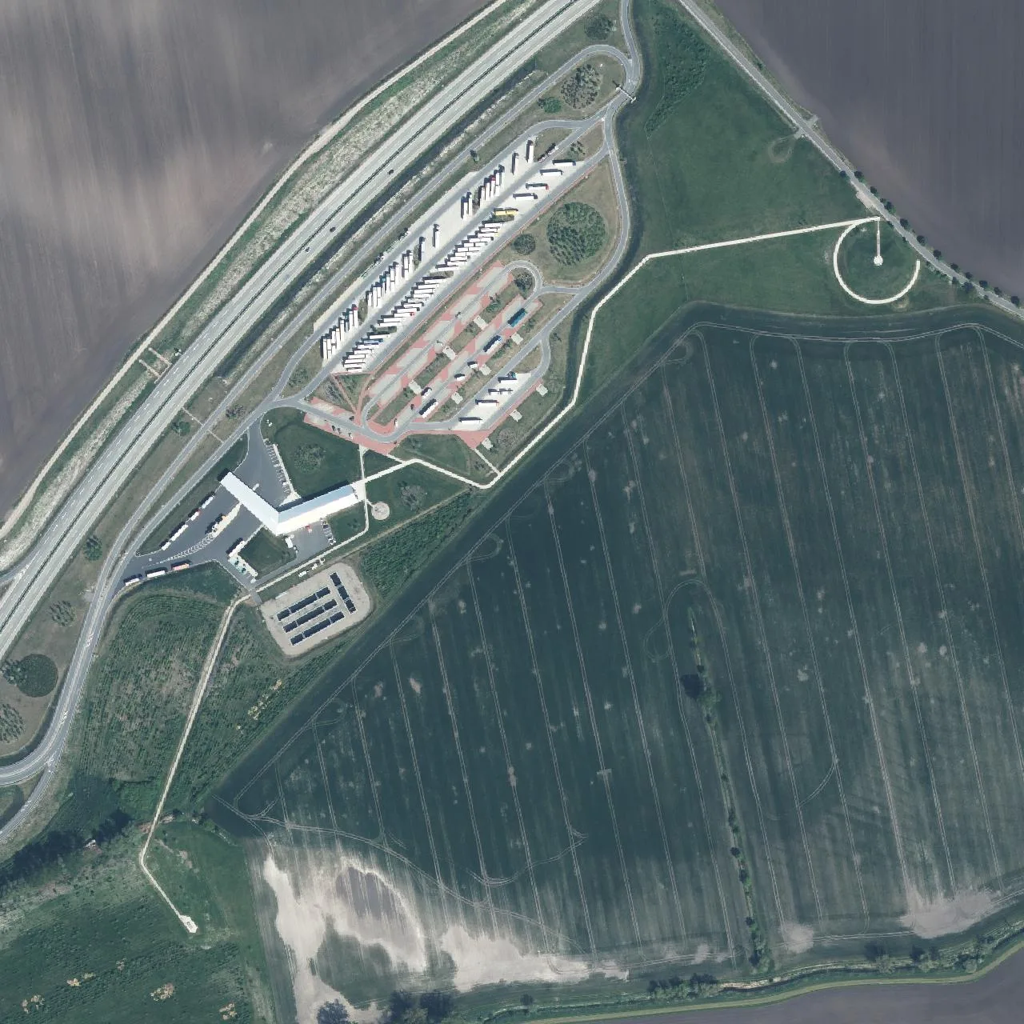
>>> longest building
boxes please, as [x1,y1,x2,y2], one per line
[220,472,358,536]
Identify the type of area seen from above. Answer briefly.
farmland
